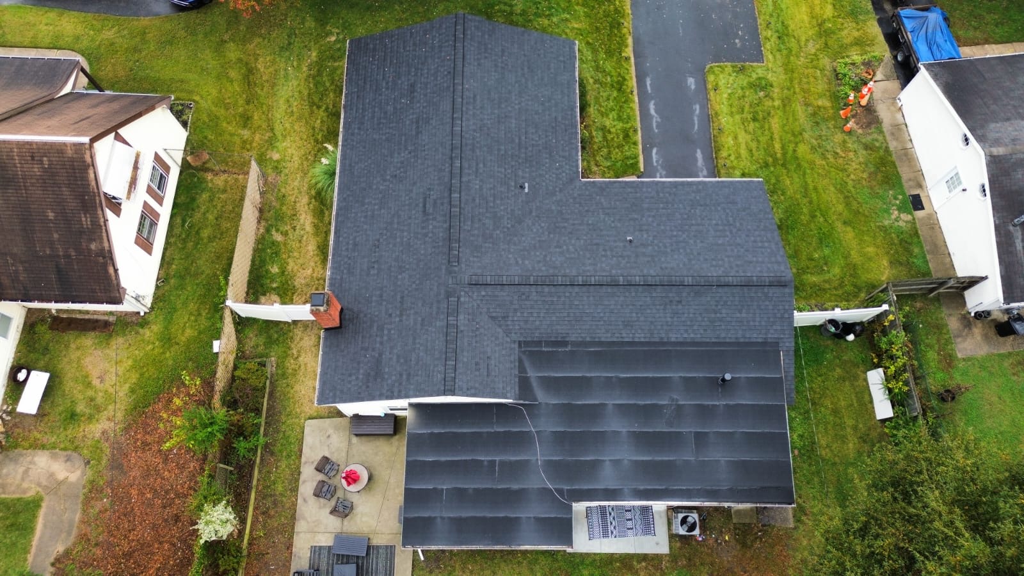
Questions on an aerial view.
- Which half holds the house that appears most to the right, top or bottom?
top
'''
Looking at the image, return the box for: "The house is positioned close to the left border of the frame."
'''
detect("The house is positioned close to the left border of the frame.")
[0,55,187,396]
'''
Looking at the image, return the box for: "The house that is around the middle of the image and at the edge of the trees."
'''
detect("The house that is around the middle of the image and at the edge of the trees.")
[310,13,795,564]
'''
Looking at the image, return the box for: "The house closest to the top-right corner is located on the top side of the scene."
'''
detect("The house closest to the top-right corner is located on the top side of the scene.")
[898,52,1024,323]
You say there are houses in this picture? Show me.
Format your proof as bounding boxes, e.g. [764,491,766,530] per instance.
[898,52,1024,323]
[0,55,187,396]
[310,13,795,564]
